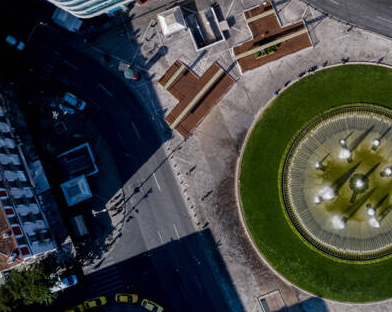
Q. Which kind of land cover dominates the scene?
paved ground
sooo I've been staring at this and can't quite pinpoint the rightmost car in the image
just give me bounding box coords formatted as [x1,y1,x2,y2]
[141,298,163,312]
